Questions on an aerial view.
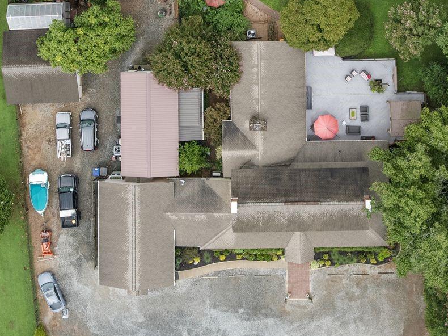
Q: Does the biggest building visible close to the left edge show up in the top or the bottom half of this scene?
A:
top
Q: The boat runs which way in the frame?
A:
up and down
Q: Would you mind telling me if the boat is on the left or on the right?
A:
left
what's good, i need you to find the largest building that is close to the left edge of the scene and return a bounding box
[2,27,83,104]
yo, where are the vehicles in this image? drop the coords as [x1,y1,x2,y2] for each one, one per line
[41,232,56,257]
[56,175,79,227]
[53,111,73,156]
[77,109,99,152]
[40,271,65,314]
